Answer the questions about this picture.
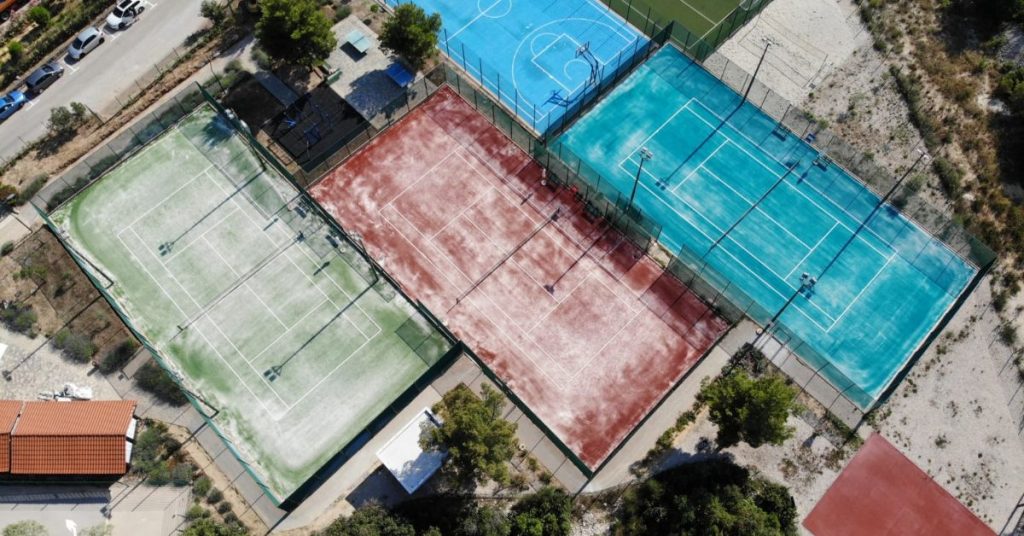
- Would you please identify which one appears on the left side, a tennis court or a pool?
tennis court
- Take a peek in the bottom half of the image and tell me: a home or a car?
home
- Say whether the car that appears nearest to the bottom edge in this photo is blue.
Yes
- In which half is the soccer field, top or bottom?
top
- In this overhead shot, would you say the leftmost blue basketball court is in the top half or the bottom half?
top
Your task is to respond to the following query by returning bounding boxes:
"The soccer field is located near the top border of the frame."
[610,0,768,63]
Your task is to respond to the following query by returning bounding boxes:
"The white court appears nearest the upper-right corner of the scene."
[714,0,863,97]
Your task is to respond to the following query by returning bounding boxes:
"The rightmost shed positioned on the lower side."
[377,409,445,493]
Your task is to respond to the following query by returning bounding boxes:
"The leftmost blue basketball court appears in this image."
[377,0,650,136]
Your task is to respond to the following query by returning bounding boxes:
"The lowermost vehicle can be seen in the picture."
[0,86,26,120]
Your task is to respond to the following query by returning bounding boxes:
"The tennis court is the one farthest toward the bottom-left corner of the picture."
[43,103,446,493]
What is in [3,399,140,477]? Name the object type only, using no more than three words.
house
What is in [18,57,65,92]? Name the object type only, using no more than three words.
car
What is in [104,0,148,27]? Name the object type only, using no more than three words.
car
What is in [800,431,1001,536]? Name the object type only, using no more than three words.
sports court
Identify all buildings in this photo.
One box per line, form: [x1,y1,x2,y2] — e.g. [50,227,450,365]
[377,409,445,493]
[3,399,140,477]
